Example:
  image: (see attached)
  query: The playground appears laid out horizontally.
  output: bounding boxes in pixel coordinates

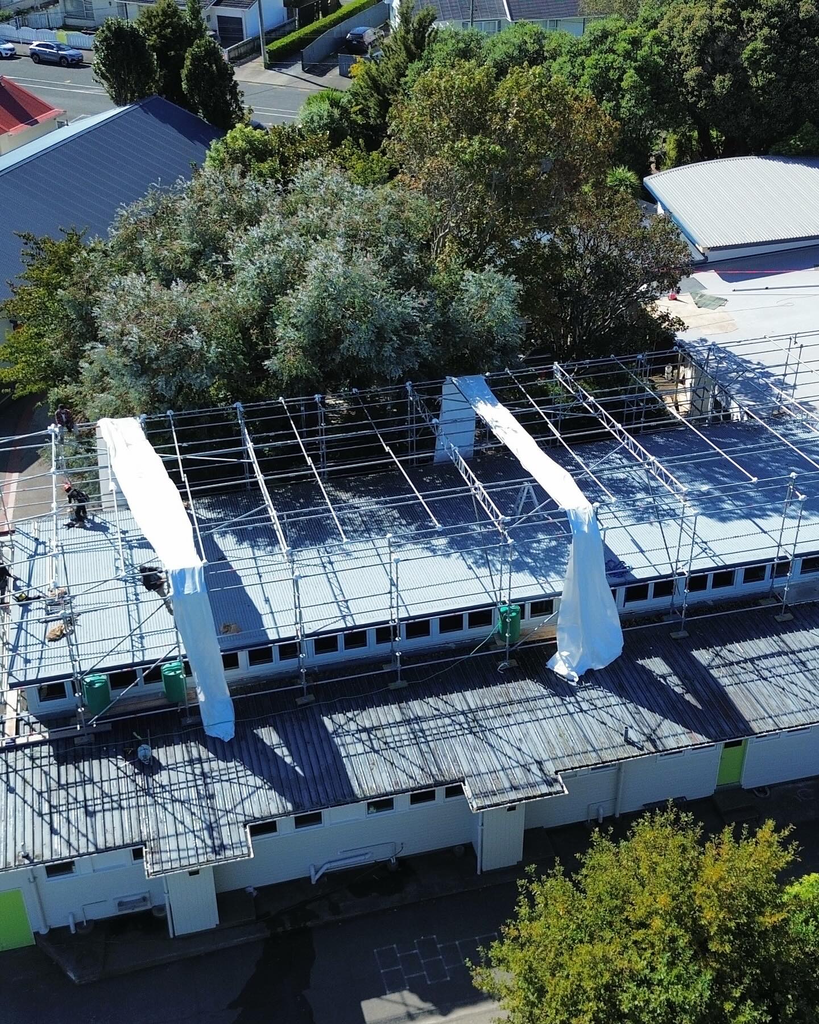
[0,854,819,1024]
